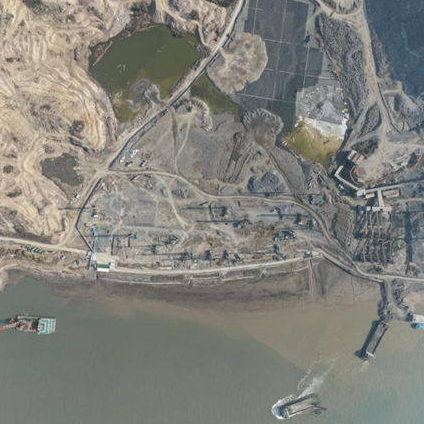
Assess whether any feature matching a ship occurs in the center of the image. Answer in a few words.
No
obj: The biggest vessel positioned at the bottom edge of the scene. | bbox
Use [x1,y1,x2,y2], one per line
[276,392,325,419]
